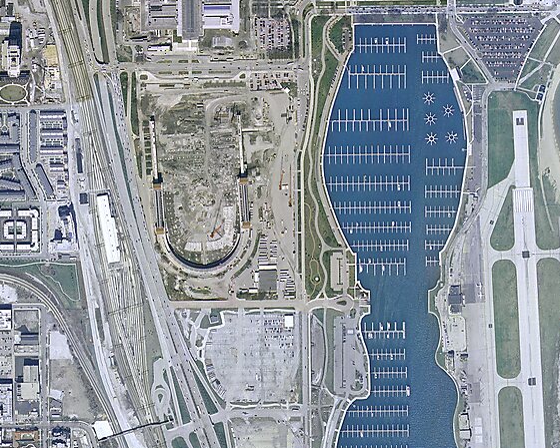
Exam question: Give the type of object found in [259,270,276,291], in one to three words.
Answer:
shed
